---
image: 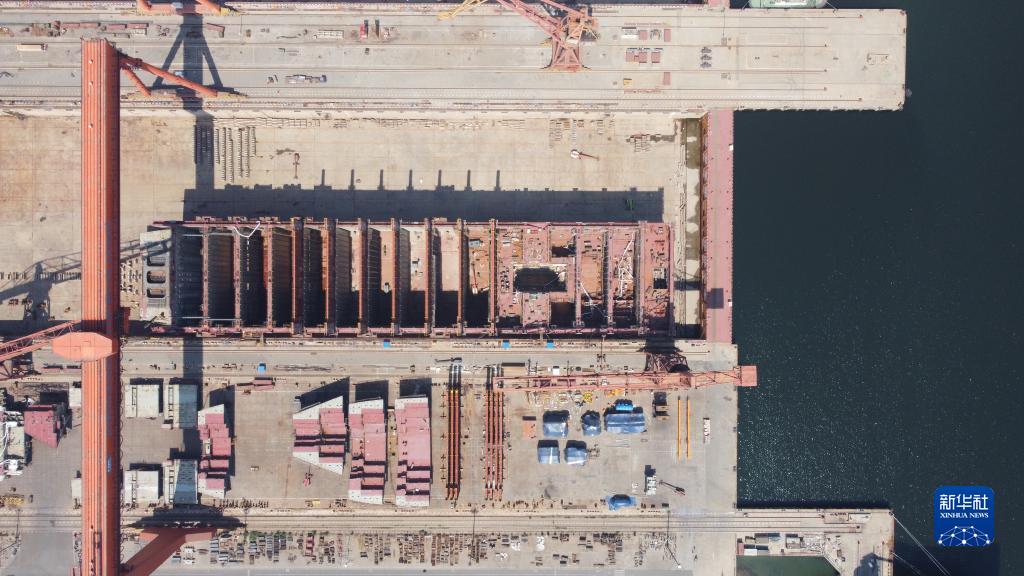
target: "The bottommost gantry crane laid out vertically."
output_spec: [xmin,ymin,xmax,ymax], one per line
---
[52,37,251,576]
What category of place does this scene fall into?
port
